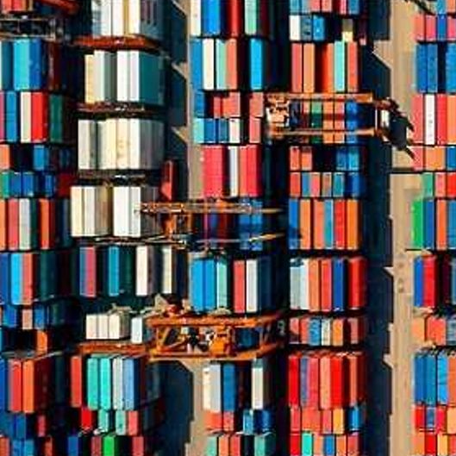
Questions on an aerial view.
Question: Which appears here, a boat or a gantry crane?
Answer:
gantry crane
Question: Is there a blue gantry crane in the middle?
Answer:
No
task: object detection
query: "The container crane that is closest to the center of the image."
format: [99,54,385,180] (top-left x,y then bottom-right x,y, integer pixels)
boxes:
[143,198,284,249]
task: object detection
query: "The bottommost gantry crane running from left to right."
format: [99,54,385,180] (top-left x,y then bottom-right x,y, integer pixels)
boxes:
[148,296,287,357]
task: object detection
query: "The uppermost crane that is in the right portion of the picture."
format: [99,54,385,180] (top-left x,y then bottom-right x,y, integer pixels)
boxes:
[266,91,392,153]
